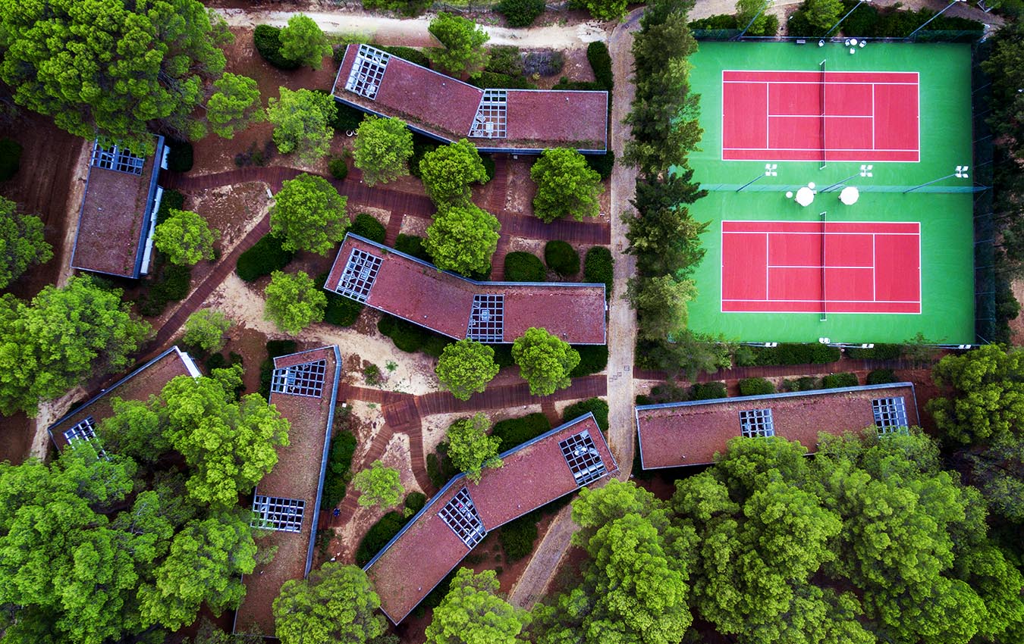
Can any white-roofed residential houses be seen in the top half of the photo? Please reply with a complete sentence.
No, I see no white-roofed residential house in the top half of the photo.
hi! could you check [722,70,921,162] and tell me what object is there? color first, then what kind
red tennis court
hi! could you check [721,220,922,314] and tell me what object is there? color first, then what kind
red tennis court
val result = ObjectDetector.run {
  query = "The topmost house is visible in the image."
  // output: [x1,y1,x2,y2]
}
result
[331,40,608,155]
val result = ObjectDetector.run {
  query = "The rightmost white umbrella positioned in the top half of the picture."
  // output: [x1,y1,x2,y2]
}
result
[836,186,858,205]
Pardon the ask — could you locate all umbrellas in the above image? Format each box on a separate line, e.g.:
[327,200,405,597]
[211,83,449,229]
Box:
[793,187,814,206]
[836,186,858,205]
